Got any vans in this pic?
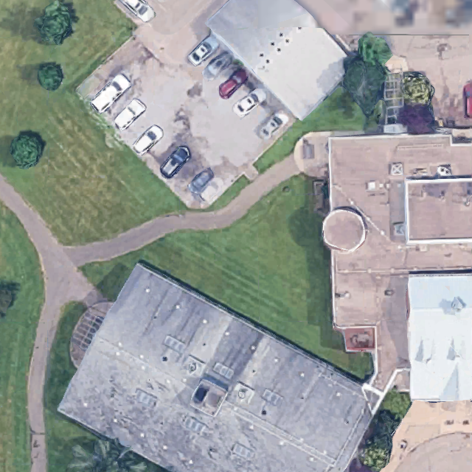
Yes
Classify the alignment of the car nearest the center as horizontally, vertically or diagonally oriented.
diagonally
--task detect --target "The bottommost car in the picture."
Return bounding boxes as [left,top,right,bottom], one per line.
[187,166,215,197]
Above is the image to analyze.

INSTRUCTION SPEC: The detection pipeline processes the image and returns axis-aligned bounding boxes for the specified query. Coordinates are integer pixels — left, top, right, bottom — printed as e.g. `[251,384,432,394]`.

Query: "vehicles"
[233,86,267,117]
[86,72,131,113]
[187,166,215,197]
[401,0,424,26]
[257,109,291,140]
[131,123,166,157]
[203,50,234,79]
[160,143,190,178]
[119,0,154,23]
[113,98,148,132]
[186,35,220,66]
[216,66,250,98]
